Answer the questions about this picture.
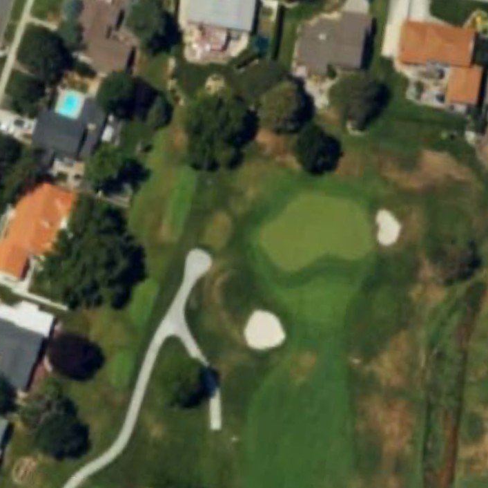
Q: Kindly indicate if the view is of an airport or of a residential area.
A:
residential area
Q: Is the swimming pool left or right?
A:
left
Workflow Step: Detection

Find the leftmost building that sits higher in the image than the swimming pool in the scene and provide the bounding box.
[69,0,136,77]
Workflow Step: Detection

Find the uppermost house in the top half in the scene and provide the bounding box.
[182,0,258,31]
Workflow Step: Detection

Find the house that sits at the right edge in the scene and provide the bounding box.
[399,18,486,106]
